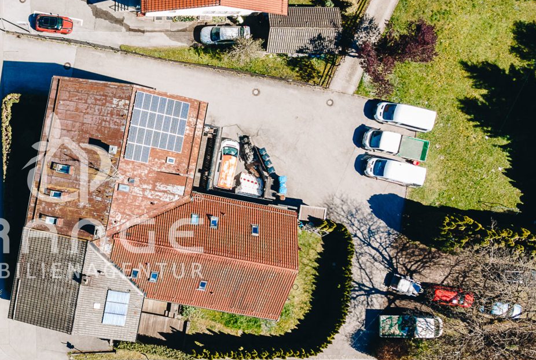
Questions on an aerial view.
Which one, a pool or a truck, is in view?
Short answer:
truck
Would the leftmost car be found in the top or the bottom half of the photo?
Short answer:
top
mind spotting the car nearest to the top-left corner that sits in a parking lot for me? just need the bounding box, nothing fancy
[35,13,73,36]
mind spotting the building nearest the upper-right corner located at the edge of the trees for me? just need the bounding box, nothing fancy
[263,7,344,57]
